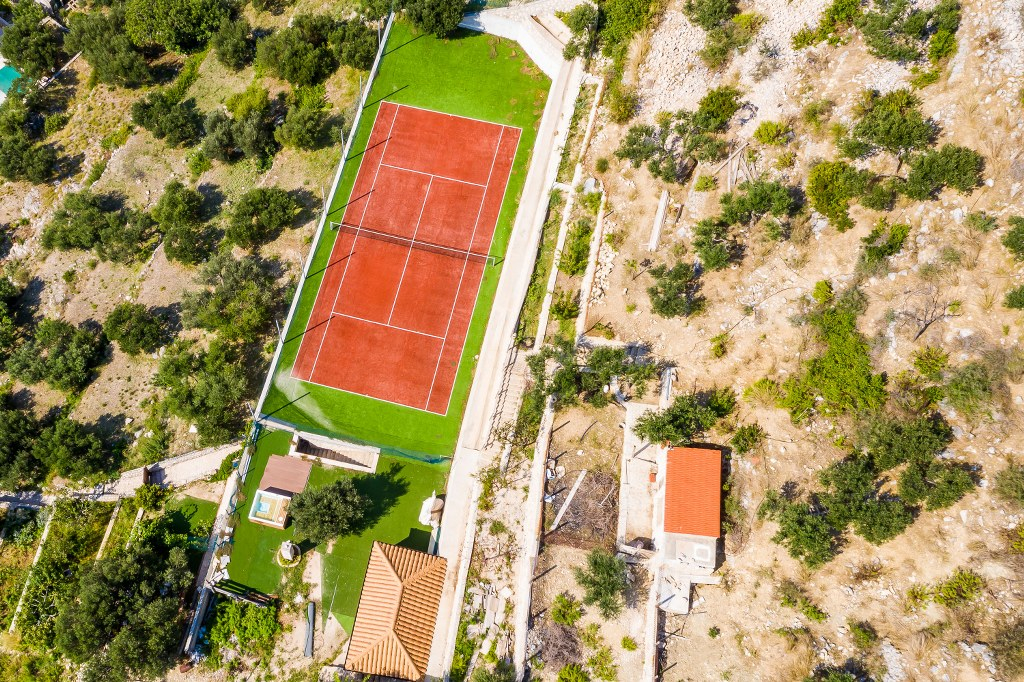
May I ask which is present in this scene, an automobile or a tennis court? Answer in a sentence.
The image shows a tennis court.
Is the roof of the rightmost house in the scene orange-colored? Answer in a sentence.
Yes, the roof of the rightmost house is indeed orange.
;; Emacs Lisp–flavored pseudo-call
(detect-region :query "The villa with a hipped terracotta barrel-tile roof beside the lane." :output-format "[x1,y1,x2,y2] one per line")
[343,538,448,682]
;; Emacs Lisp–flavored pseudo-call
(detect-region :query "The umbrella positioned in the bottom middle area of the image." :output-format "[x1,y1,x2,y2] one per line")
[415,493,434,522]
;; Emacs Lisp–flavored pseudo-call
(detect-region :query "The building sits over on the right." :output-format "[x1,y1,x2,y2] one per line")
[650,435,722,576]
